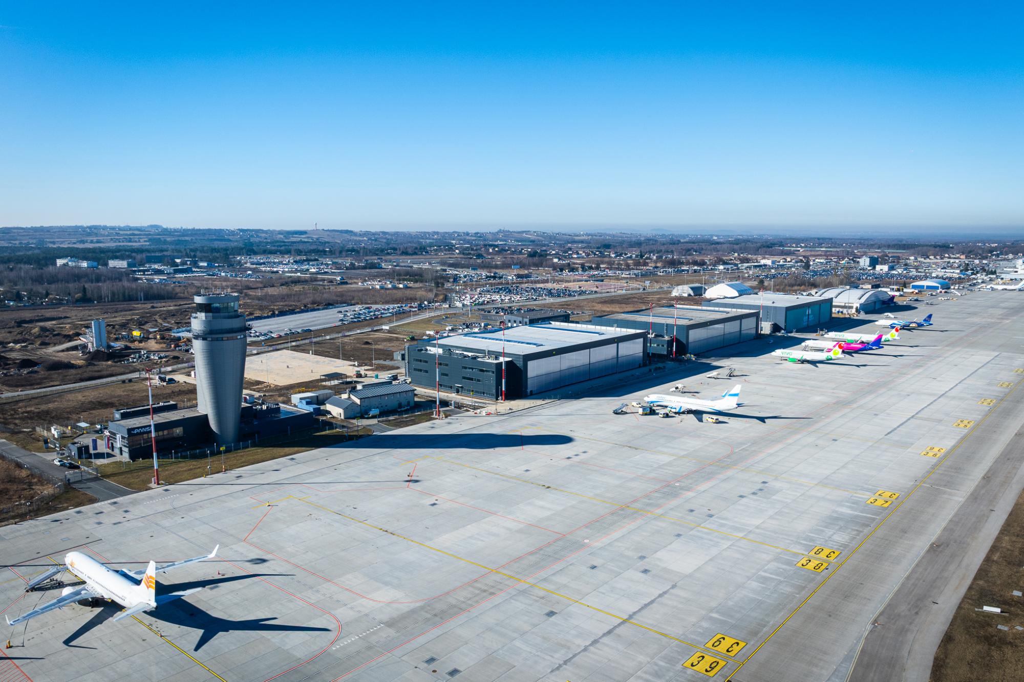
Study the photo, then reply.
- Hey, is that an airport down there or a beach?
airport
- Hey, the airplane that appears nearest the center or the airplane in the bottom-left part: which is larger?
the airplane in the bottom-left part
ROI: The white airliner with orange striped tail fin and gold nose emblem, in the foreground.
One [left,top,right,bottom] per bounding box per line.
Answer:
[9,547,213,625]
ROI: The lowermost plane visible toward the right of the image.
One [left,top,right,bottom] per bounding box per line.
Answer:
[644,387,739,414]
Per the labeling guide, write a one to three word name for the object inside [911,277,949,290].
hangar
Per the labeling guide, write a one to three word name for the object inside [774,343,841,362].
airplane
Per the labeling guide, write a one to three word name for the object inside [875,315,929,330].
airplane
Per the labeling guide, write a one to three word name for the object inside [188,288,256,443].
building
